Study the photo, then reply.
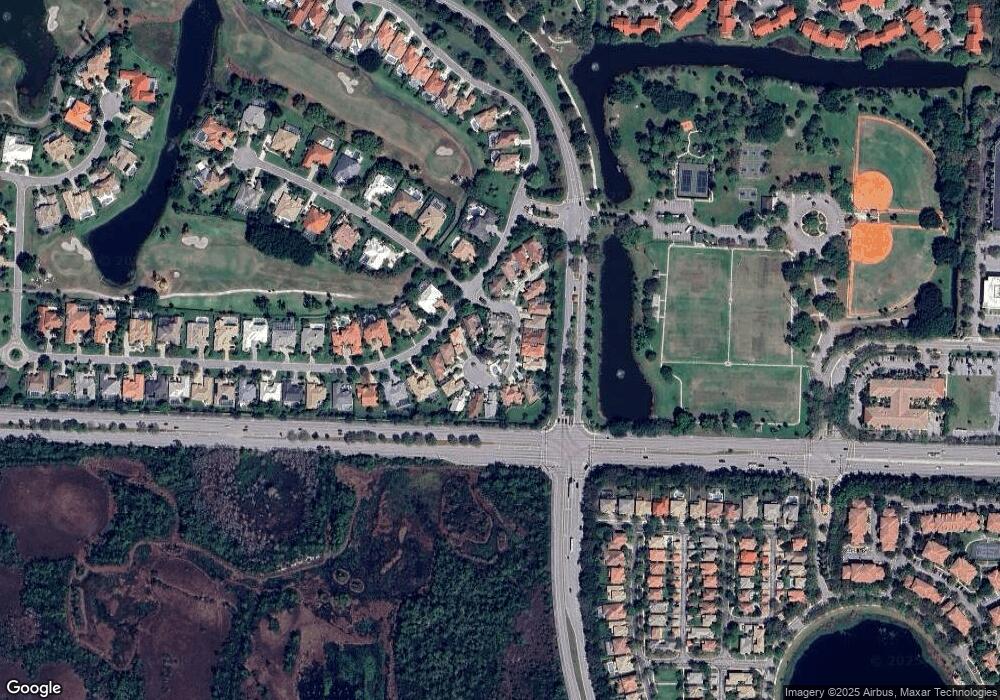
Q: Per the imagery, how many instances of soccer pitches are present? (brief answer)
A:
3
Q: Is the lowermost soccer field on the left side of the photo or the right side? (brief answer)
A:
right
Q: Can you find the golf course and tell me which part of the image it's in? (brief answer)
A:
top left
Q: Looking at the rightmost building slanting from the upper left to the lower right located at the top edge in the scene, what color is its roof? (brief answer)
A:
red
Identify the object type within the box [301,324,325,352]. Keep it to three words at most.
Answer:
house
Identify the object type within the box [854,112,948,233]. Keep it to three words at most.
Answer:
baseball field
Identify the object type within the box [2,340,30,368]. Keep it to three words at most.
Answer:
roundabout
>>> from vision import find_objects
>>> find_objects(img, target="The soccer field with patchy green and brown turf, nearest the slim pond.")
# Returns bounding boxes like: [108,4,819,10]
[663,249,730,361]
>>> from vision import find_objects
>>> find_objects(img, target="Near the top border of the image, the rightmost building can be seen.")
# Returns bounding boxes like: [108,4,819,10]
[967,3,983,54]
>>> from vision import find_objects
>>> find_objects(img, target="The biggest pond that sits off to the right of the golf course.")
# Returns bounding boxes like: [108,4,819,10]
[599,233,654,420]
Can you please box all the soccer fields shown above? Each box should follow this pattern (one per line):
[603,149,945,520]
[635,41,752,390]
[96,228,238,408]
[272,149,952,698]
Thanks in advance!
[684,366,801,423]
[730,251,790,364]
[663,249,730,361]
